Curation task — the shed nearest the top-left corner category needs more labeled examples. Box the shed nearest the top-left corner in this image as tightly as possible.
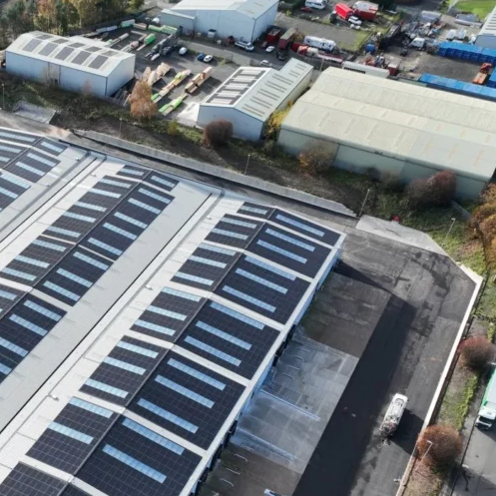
[4,31,134,99]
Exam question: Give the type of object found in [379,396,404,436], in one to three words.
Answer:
truck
